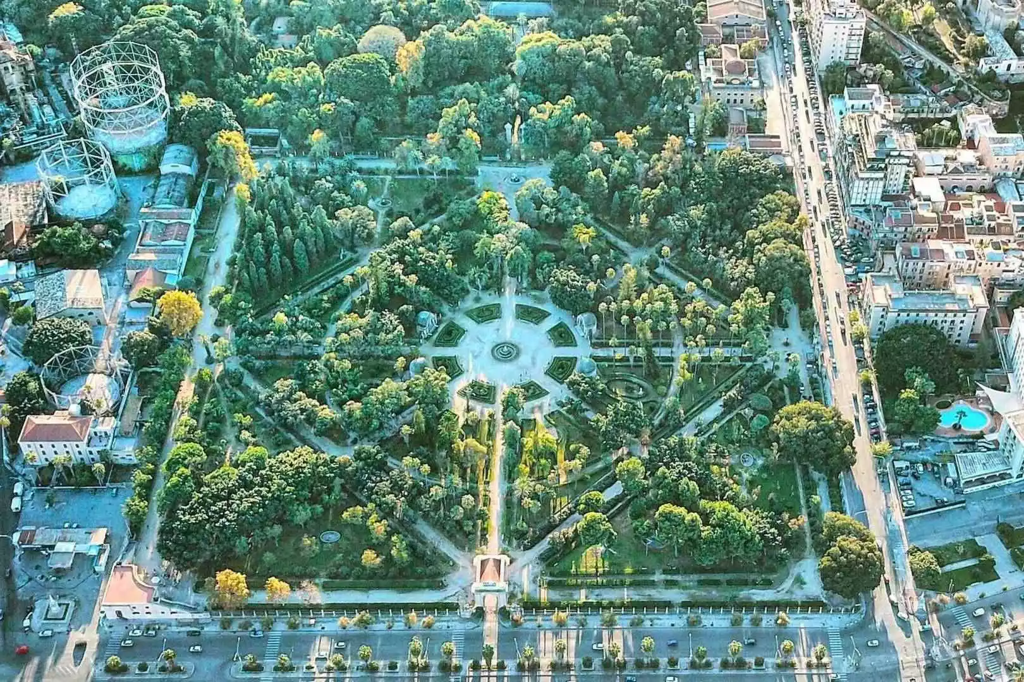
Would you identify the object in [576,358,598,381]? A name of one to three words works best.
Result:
building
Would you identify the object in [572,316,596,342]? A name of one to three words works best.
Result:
building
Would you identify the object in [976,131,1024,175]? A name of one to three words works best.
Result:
house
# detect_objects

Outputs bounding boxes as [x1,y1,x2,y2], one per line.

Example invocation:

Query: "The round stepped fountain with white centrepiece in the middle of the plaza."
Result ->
[490,340,521,362]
